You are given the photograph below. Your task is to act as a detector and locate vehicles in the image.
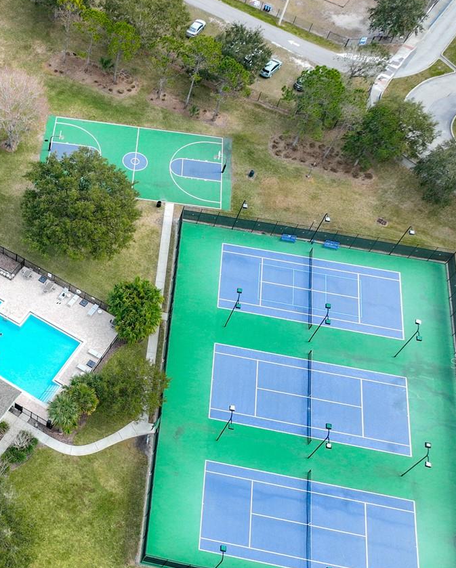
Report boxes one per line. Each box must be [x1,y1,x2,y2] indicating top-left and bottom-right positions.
[185,17,208,35]
[260,56,284,75]
[294,67,318,87]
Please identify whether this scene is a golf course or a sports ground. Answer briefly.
sports ground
